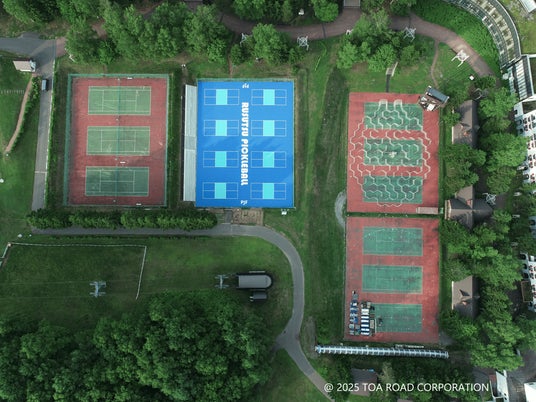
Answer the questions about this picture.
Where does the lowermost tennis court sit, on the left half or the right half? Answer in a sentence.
You can find the lowermost tennis court on the right side of the picture.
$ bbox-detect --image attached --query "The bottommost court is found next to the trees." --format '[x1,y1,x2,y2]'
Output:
[345,299,439,341]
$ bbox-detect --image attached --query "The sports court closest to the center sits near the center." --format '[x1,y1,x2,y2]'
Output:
[251,183,286,199]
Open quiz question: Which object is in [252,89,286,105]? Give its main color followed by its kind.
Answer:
blue sports court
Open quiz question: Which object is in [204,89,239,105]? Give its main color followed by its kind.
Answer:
blue sports court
